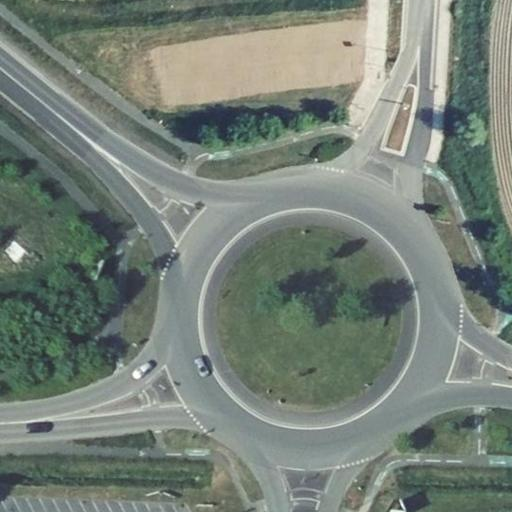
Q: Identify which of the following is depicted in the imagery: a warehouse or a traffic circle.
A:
traffic circle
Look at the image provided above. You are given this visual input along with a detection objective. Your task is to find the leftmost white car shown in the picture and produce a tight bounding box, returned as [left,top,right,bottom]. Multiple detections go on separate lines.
[131,362,154,380]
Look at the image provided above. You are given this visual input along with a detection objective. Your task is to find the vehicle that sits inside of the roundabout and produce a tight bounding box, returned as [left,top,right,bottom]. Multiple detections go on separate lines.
[194,356,209,378]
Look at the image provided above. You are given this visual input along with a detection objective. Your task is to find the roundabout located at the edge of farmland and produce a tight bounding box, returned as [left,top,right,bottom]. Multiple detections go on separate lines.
[158,166,462,471]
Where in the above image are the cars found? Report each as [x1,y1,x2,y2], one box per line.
[131,362,154,380]
[27,422,54,432]
[194,356,209,378]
